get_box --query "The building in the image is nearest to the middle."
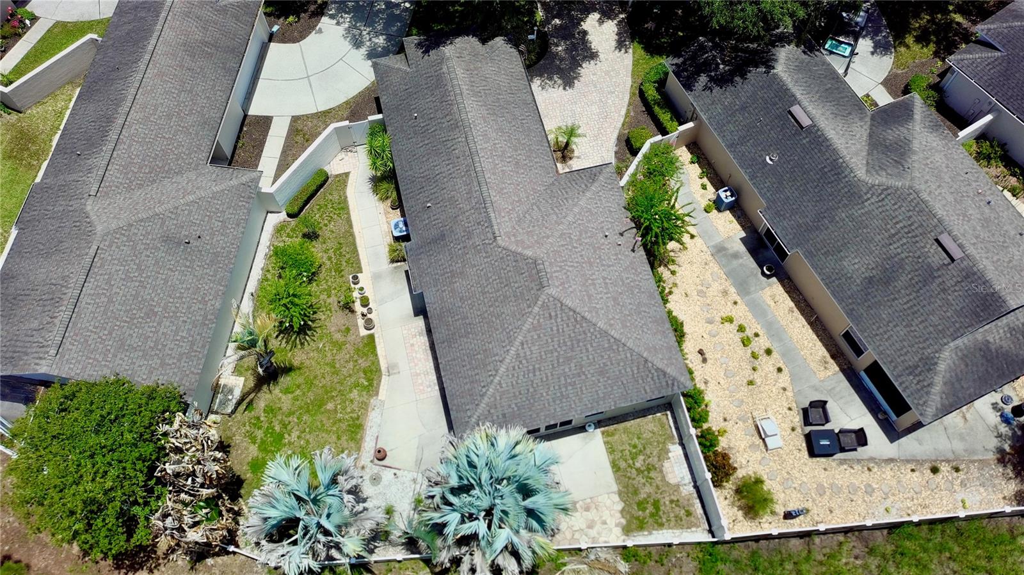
[370,23,694,442]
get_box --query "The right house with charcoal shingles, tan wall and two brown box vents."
[664,23,1024,429]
